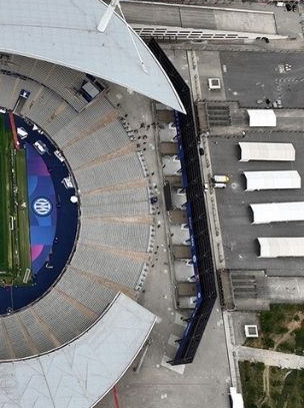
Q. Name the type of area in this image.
sports ground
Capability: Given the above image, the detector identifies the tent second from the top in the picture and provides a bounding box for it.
[236,144,295,163]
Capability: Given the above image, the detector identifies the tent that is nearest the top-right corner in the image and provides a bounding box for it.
[244,111,277,128]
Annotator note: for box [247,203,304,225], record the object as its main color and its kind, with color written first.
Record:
white tent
